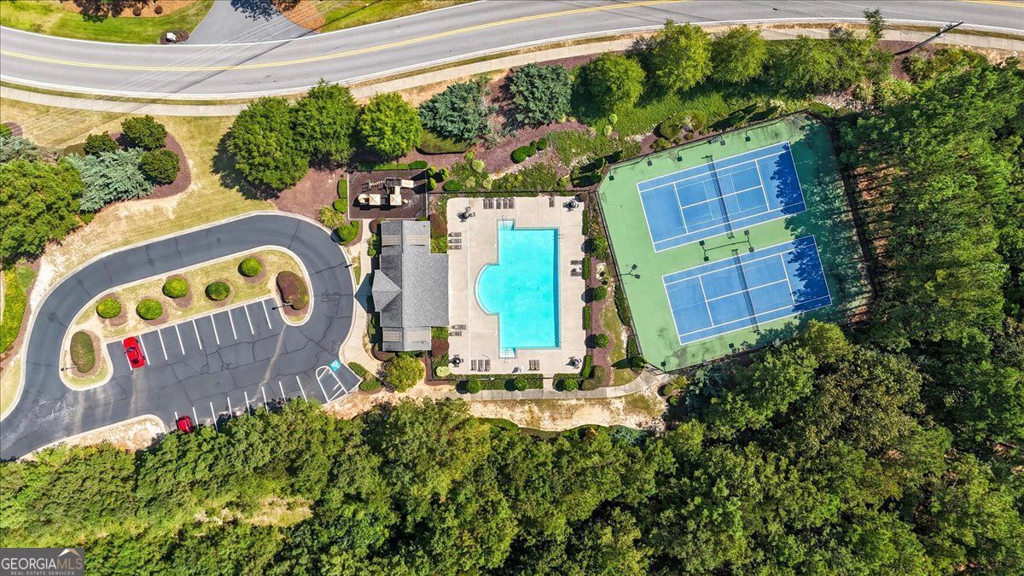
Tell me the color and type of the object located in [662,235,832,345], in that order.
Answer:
blue tennis court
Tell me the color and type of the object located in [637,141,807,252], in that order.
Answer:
blue tennis court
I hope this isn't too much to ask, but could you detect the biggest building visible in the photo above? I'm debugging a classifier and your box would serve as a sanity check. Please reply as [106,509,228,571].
[372,220,450,353]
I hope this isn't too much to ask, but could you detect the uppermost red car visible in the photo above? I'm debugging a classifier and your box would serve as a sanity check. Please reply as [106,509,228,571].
[125,336,146,368]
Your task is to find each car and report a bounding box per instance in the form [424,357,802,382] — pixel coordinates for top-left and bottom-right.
[178,415,199,444]
[125,336,146,368]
